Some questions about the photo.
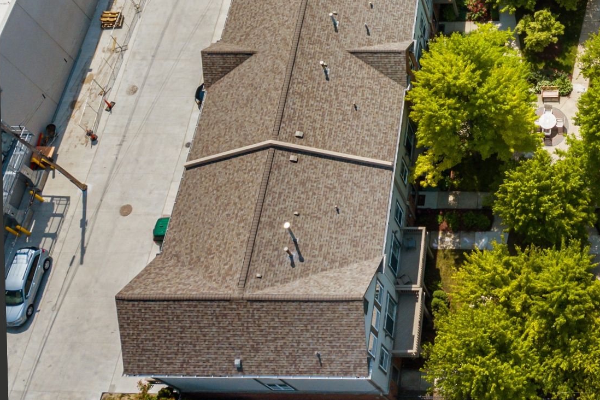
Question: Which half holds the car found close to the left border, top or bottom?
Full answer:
The car found close to the left border sits in the bottom half of the picture.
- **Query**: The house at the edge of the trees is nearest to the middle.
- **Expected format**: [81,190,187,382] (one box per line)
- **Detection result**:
[108,0,459,400]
